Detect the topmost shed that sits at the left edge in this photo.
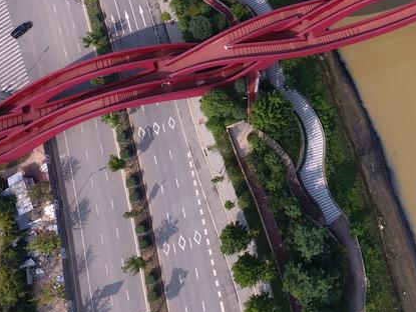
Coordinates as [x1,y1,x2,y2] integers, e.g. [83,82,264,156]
[7,171,31,192]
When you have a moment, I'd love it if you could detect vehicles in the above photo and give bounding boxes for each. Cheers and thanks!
[11,20,32,39]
